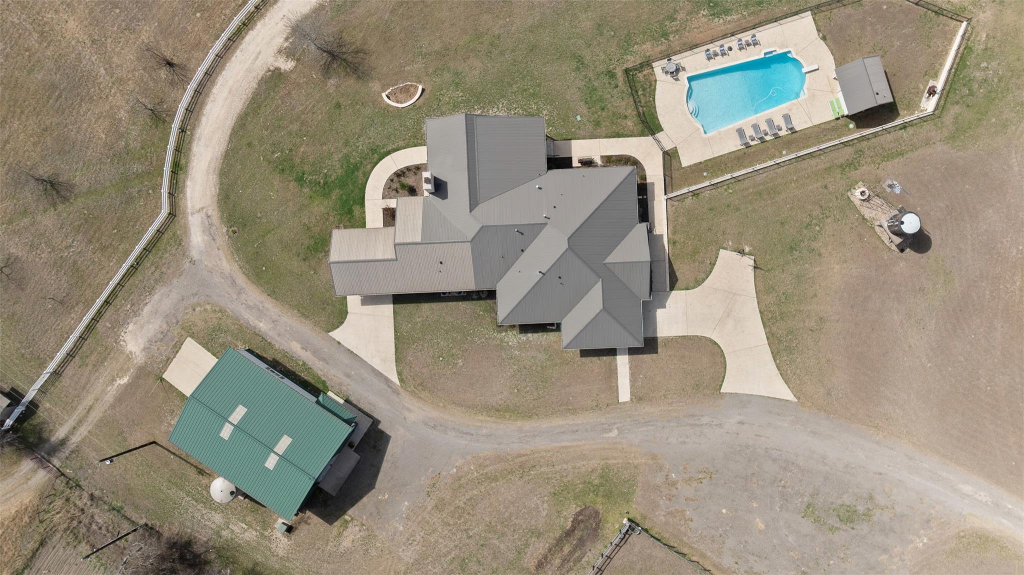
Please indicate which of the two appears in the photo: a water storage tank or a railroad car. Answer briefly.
water storage tank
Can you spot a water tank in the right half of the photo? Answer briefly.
Yes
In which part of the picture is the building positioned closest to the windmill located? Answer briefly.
top right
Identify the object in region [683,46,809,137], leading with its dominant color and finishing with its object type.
blue swimming pool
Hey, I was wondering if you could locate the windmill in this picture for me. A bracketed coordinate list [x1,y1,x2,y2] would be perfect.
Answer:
[852,175,914,202]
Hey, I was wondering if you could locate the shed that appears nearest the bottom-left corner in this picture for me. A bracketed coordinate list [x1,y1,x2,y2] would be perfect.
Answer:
[0,379,31,422]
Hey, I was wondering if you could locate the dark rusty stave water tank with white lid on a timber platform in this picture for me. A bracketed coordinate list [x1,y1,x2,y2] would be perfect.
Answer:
[870,206,922,251]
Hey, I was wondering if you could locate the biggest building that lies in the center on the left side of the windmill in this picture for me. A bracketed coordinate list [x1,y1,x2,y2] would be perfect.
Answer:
[327,113,652,351]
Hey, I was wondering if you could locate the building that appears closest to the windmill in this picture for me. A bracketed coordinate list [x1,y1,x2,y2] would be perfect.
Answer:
[826,56,894,118]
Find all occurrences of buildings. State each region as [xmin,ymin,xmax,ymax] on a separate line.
[826,56,894,118]
[0,379,31,422]
[327,113,652,351]
[167,345,357,523]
